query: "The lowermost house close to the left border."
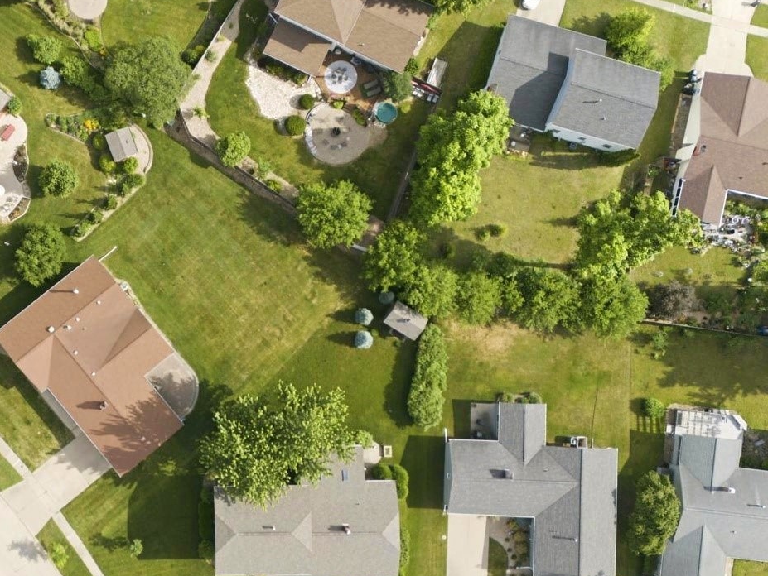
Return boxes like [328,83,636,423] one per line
[0,252,184,477]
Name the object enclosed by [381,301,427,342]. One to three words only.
shed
